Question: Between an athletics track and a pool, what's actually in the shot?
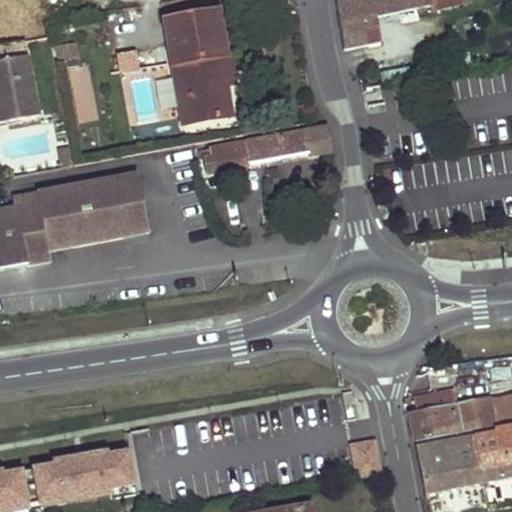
pool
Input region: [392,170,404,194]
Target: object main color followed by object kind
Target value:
white vehicle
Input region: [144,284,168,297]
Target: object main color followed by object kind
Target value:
white vehicle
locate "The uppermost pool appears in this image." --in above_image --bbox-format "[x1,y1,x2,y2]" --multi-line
[130,77,160,122]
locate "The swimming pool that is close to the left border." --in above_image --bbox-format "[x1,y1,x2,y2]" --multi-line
[0,128,52,160]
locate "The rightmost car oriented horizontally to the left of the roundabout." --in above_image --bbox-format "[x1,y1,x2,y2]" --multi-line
[248,339,272,351]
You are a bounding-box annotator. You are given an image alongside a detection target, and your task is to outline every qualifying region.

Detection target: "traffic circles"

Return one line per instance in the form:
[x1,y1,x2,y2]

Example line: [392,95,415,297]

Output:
[336,275,410,349]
